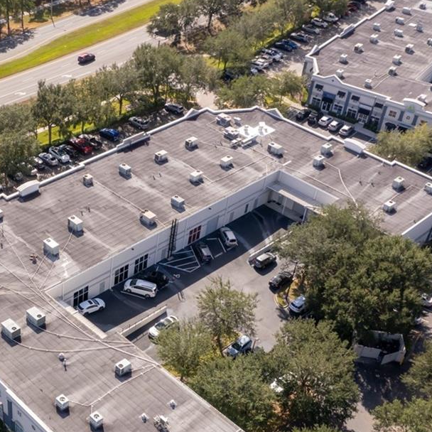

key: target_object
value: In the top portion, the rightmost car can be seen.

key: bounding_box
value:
[419,158,432,170]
